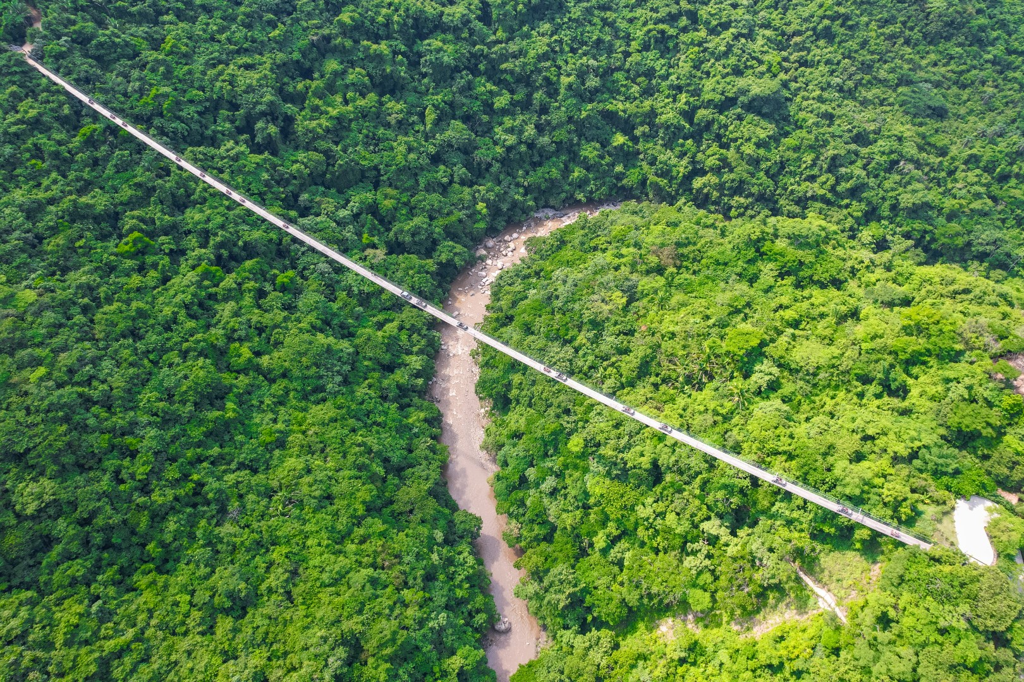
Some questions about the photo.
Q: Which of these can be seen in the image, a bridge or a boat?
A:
bridge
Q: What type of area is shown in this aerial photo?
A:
forest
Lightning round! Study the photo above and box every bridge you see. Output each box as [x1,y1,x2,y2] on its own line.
[19,48,939,569]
